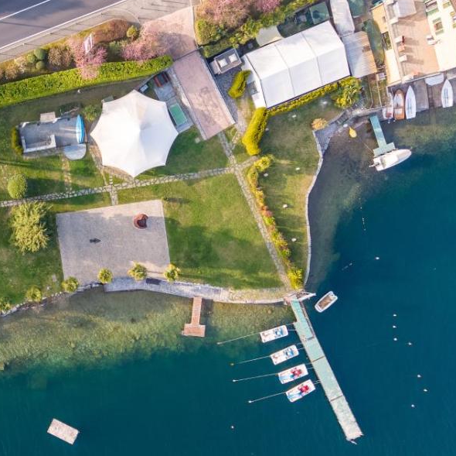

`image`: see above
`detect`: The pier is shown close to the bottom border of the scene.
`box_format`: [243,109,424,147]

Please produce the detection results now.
[291,297,363,445]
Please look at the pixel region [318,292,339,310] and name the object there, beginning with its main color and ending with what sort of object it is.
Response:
white boat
